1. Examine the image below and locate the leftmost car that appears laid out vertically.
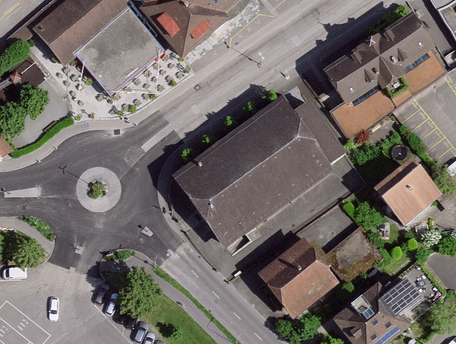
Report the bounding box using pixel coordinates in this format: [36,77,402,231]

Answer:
[48,296,60,322]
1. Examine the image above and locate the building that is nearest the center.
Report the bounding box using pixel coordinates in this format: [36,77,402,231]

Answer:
[172,95,334,251]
